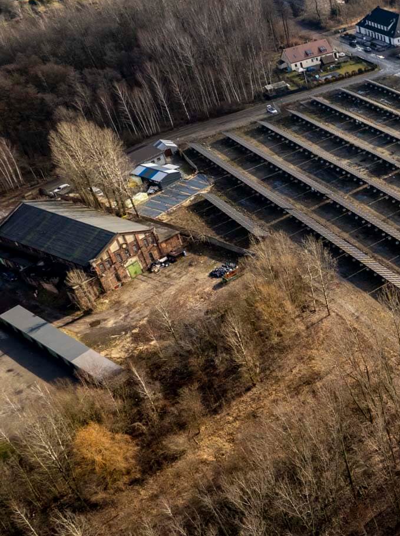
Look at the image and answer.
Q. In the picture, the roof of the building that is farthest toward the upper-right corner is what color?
black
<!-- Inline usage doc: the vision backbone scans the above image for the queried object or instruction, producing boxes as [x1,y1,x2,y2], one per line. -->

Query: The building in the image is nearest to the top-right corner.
[352,4,400,48]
